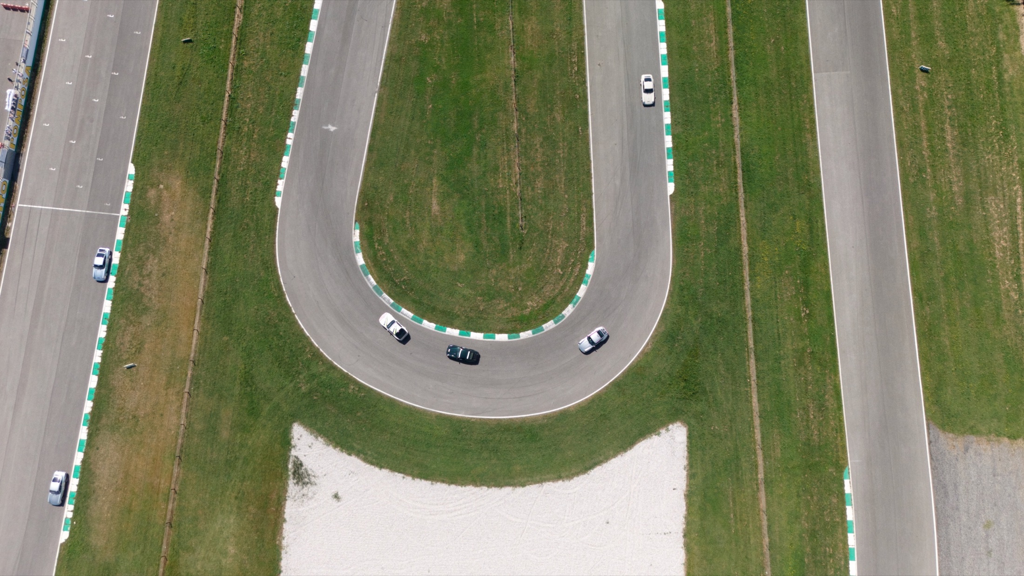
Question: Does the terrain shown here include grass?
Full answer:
Yes, grass can be seen from above here.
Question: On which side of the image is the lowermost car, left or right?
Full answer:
You can find the lowermost car on the left side of the picture.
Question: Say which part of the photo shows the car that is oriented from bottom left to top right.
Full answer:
The car that is oriented from bottom left to top right sits in the center section of the image.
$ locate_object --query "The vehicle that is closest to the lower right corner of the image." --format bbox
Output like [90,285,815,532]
[578,327,609,352]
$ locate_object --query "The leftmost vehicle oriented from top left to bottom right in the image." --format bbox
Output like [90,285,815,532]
[380,312,408,342]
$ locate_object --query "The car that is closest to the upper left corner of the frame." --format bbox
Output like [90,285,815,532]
[92,249,112,282]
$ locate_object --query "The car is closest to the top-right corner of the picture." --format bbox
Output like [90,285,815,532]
[640,75,655,105]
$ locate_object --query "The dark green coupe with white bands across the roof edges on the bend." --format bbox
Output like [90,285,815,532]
[447,346,480,363]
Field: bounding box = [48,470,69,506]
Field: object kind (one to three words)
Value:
car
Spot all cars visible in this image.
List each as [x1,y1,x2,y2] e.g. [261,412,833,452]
[92,249,112,282]
[578,327,609,352]
[48,470,69,506]
[380,312,408,342]
[447,346,480,363]
[640,75,655,105]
